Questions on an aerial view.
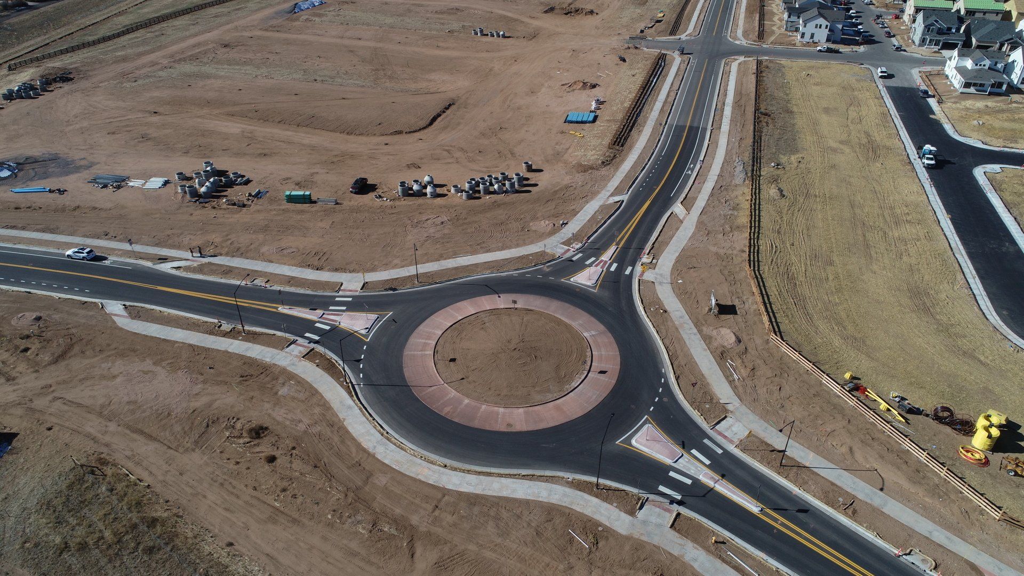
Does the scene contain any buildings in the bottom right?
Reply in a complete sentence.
No, in the bottom right there is no building.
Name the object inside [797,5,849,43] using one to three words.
house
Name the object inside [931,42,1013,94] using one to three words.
house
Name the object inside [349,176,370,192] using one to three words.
car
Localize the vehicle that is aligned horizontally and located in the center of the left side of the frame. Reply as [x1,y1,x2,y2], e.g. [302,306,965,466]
[64,245,97,261]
